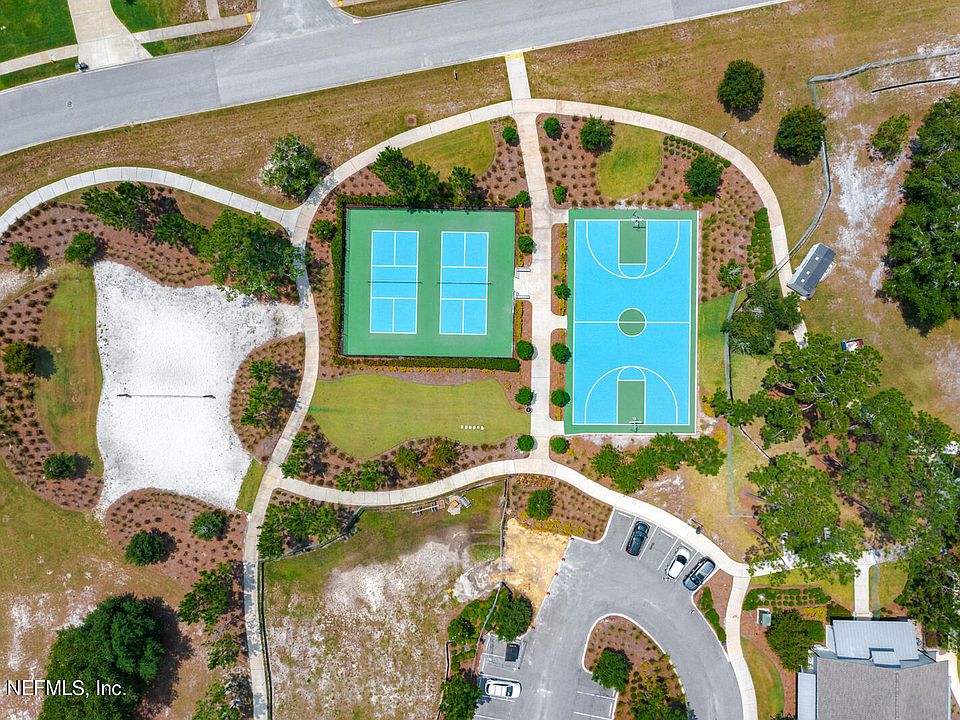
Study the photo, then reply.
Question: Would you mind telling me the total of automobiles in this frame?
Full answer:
Altogether the scene contains 4 automobiles.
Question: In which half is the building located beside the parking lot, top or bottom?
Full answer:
The building located beside the parking lot sits in the bottom half of the picture.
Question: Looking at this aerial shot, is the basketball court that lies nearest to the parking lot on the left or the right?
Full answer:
It is on the right.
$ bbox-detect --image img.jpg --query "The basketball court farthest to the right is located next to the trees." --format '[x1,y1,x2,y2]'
[564,209,699,436]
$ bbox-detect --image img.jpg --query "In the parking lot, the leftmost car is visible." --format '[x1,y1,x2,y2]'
[485,677,521,698]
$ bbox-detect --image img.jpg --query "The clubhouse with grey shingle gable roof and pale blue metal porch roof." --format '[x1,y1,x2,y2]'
[798,611,949,720]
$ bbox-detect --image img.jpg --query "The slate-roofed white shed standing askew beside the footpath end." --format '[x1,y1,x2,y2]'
[779,240,836,304]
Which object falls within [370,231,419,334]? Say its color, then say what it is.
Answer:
blue sports court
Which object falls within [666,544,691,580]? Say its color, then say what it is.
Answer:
white car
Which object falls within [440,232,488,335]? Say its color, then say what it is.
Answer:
blue sports court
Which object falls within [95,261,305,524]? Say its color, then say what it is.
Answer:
white sports court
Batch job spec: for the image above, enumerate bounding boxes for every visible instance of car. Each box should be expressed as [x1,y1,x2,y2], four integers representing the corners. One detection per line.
[624,519,648,557]
[683,555,715,591]
[666,544,691,580]
[485,677,521,698]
